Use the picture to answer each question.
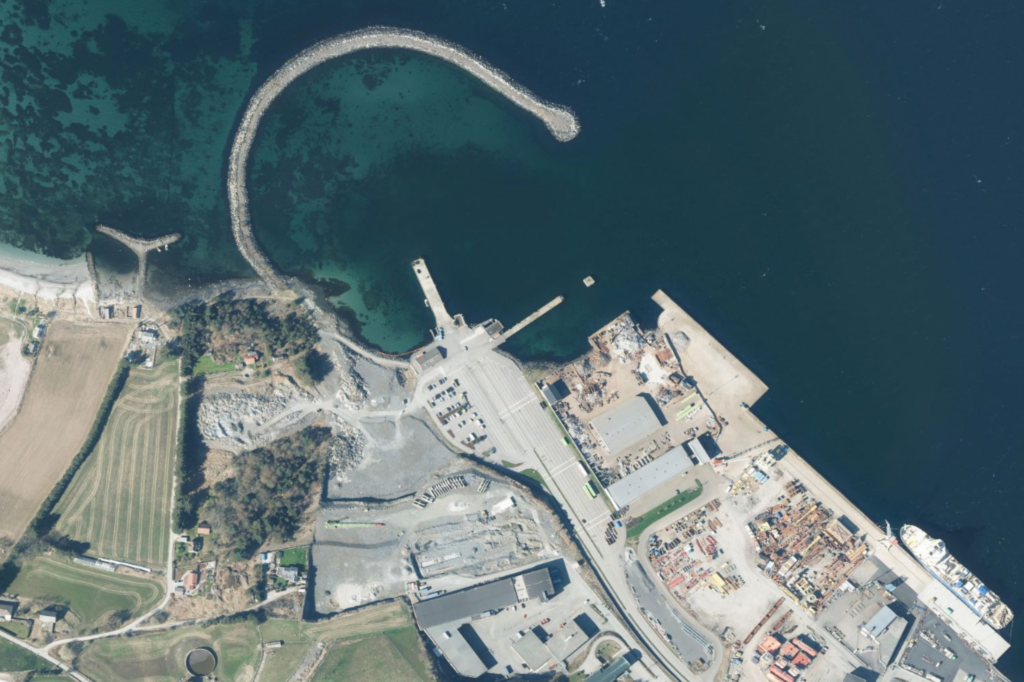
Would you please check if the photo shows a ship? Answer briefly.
Yes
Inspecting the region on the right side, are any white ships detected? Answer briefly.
Yes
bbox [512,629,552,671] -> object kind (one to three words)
building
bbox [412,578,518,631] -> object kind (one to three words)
building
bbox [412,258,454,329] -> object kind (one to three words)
pier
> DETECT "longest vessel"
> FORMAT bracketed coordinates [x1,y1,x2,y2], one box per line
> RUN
[882,524,1014,644]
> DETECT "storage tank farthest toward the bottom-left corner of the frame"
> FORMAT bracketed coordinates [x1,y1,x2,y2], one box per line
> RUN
[186,648,216,682]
